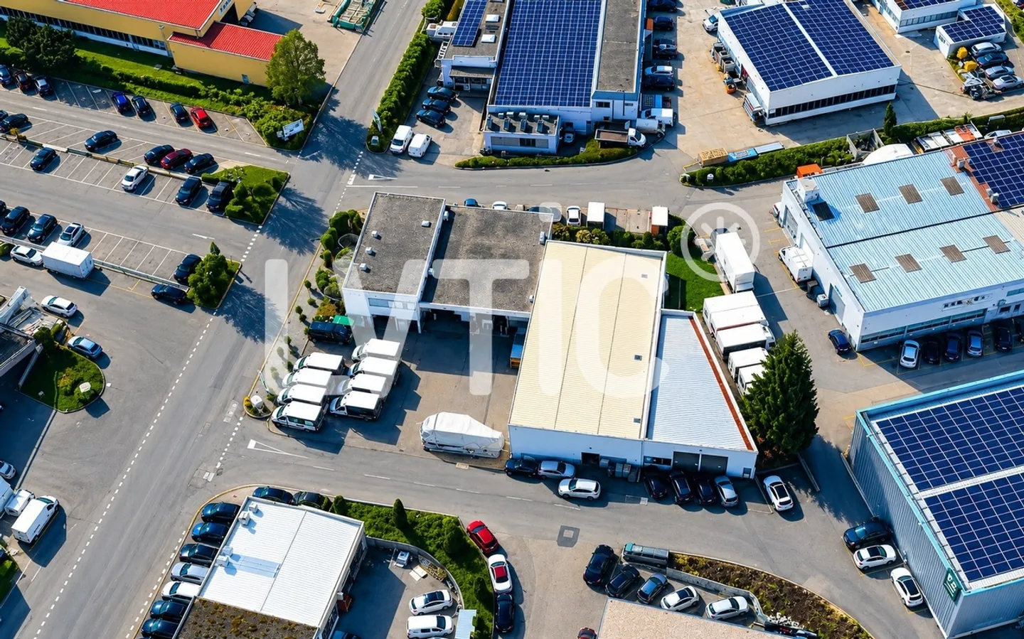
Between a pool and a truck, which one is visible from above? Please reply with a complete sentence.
The one in the frame is a truck.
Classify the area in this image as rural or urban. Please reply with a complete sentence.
This place is urban.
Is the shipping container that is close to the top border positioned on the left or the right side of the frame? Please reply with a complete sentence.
The shipping container that is close to the top border sits on the left side.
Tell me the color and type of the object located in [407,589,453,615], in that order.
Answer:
white car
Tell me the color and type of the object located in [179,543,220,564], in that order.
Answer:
black car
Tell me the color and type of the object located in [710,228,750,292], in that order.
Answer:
white truck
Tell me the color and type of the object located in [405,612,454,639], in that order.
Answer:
white vehicle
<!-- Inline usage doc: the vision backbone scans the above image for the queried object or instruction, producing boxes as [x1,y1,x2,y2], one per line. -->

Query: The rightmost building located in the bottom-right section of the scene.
[844,370,1024,635]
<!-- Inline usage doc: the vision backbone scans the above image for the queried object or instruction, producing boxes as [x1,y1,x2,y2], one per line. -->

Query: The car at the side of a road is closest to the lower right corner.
[889,567,928,607]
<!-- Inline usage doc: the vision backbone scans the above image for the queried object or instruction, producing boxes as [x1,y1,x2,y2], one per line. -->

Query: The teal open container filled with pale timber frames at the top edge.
[328,0,379,28]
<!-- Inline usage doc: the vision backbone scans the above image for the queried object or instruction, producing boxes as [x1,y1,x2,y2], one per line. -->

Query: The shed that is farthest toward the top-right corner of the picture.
[933,4,1007,61]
